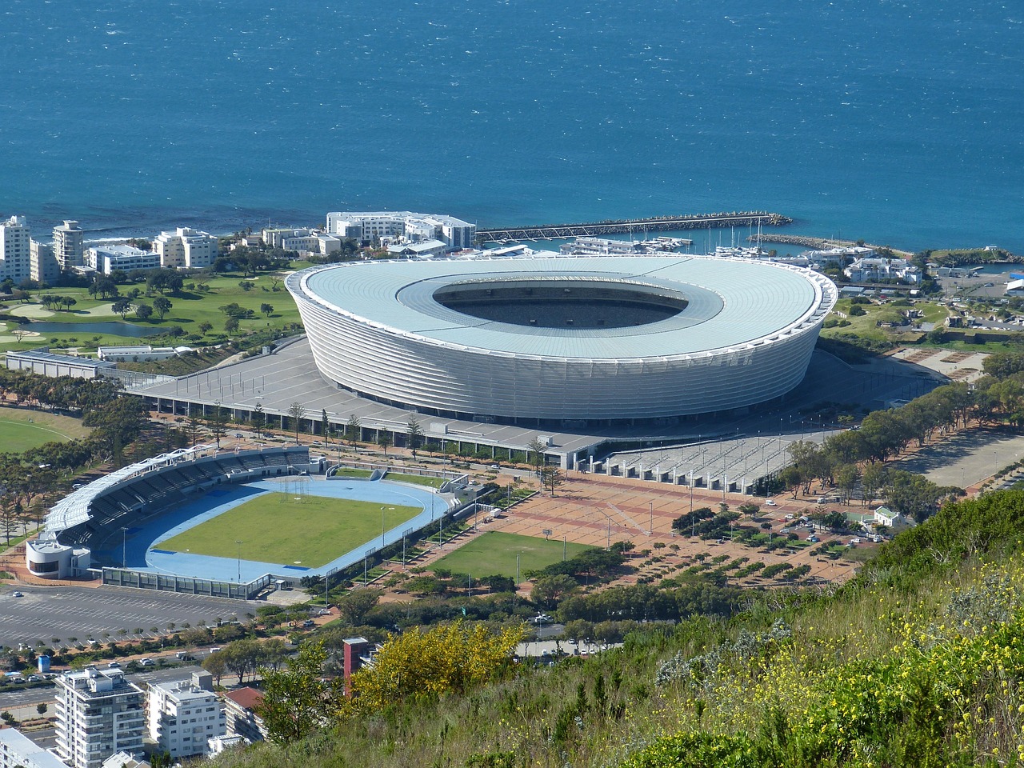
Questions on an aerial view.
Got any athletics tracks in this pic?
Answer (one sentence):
Yes, the picture does show an athletics track.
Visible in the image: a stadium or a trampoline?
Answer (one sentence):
Visible in the photo is a stadium.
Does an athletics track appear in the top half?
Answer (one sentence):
No, no athletics track appears in the top half.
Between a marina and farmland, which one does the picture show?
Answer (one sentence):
What you see here is a marina.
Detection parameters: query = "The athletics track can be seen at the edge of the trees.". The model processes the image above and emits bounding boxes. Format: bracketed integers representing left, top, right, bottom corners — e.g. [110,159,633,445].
[94,477,459,589]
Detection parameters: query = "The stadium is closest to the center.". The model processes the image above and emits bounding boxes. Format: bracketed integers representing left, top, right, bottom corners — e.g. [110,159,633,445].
[284,254,839,429]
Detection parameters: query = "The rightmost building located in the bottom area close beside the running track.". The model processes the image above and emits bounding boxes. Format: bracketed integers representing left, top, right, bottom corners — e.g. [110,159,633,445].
[454,484,481,501]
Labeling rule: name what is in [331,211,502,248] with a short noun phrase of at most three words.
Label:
building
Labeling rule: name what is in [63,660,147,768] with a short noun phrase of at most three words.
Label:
building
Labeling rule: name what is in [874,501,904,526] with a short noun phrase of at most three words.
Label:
house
